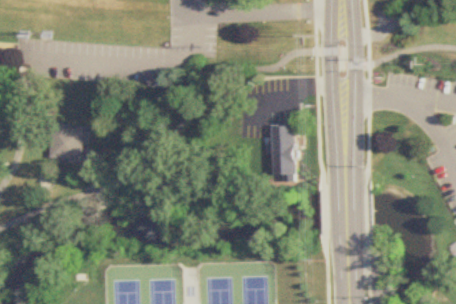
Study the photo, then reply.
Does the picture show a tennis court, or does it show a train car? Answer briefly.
tennis court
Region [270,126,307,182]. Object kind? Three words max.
house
